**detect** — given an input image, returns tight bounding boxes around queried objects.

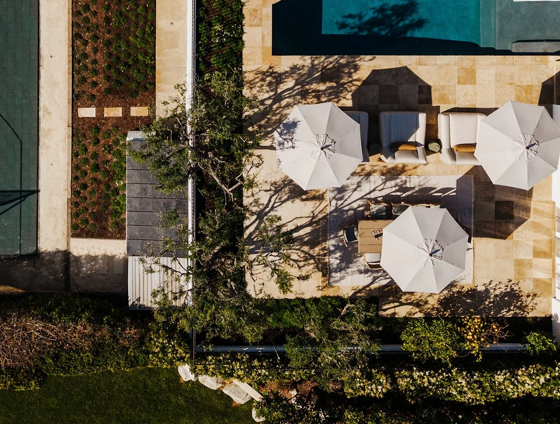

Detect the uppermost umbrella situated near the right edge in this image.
[474,101,560,192]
